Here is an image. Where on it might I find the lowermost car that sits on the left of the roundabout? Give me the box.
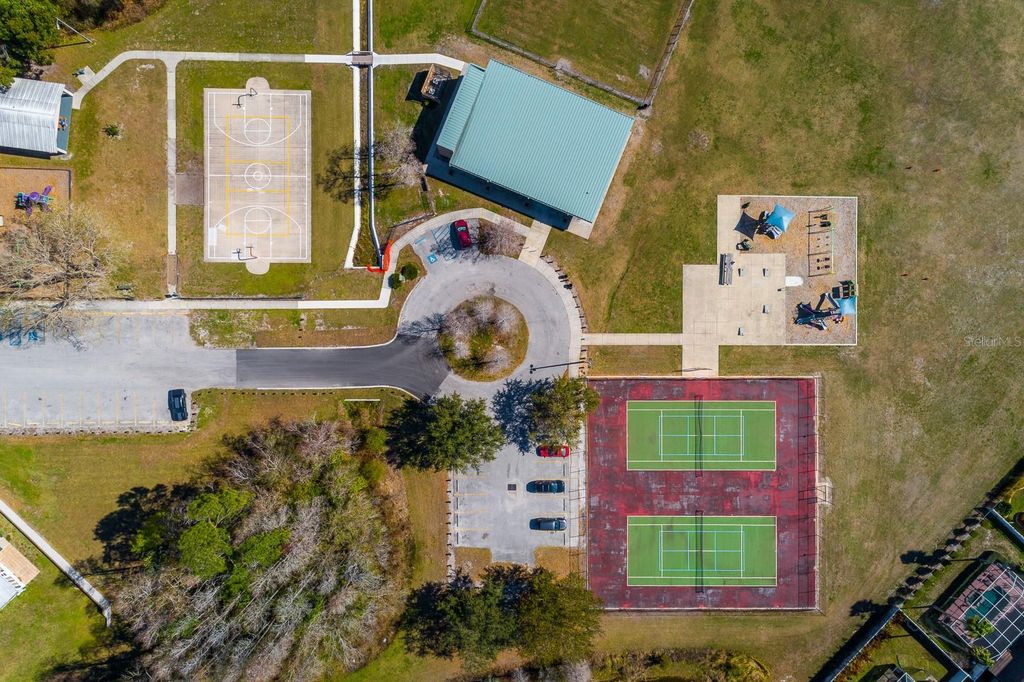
[171,389,189,421]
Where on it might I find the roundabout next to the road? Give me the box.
[394,251,571,426]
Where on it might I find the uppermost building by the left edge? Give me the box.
[0,78,74,155]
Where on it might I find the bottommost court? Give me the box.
[627,512,777,591]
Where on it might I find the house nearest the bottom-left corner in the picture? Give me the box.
[0,537,40,610]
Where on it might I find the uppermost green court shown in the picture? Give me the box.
[627,397,777,475]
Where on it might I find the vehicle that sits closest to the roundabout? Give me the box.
[454,219,471,250]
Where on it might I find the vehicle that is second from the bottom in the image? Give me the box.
[533,480,564,495]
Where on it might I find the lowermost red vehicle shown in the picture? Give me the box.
[540,445,569,459]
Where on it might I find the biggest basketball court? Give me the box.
[204,77,311,274]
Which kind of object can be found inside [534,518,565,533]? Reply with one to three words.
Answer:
car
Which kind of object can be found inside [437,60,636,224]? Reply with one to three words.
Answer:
building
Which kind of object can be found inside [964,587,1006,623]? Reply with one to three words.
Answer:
swimming pool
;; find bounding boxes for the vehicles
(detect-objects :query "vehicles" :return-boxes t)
[533,480,564,495]
[171,389,189,421]
[540,445,569,459]
[534,518,565,533]
[454,219,471,250]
